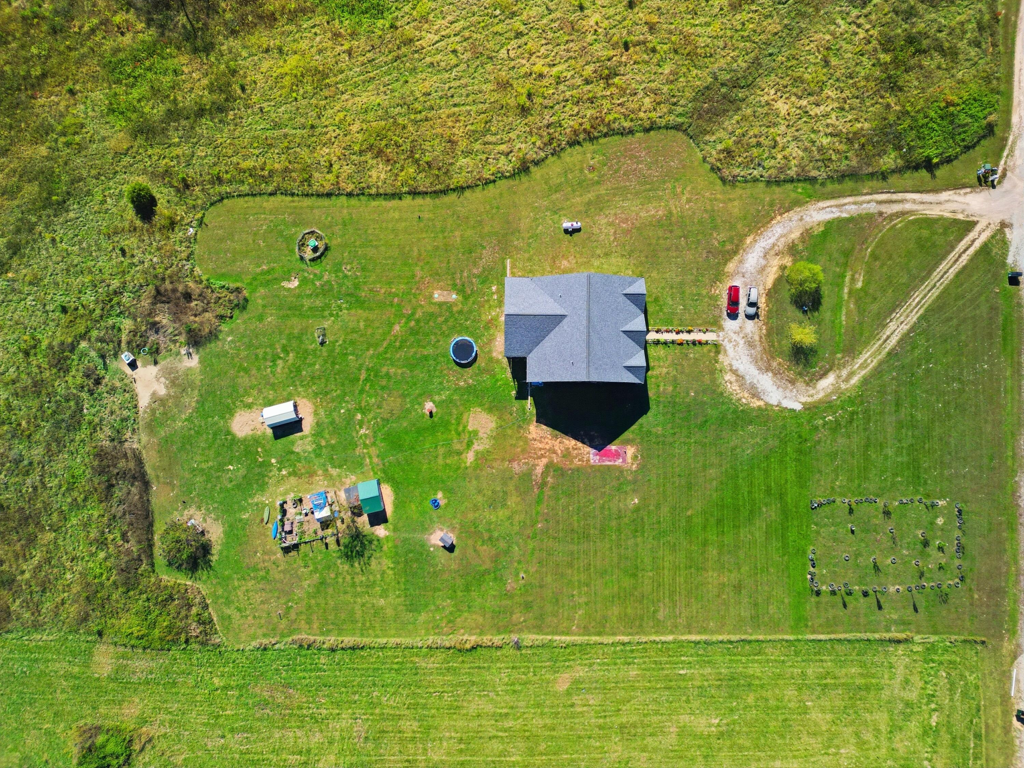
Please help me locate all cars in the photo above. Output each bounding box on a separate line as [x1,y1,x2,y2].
[742,285,759,316]
[726,285,742,313]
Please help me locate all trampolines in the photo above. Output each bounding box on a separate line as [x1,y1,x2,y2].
[450,337,476,362]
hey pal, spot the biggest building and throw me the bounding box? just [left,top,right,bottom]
[504,272,647,383]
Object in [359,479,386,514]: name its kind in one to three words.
shed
